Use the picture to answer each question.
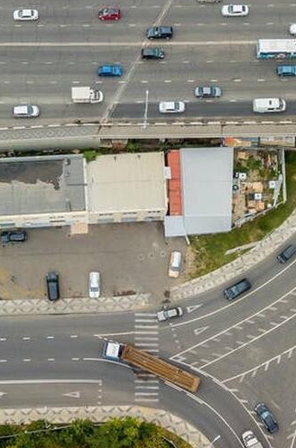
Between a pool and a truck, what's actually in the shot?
truck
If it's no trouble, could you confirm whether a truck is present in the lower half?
Yes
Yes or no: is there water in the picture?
No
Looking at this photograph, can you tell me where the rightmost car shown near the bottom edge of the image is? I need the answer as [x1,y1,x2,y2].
[255,403,278,433]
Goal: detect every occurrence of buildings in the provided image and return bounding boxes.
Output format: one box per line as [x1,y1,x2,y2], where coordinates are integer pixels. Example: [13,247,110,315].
[89,151,167,225]
[0,153,89,235]
[164,147,234,241]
